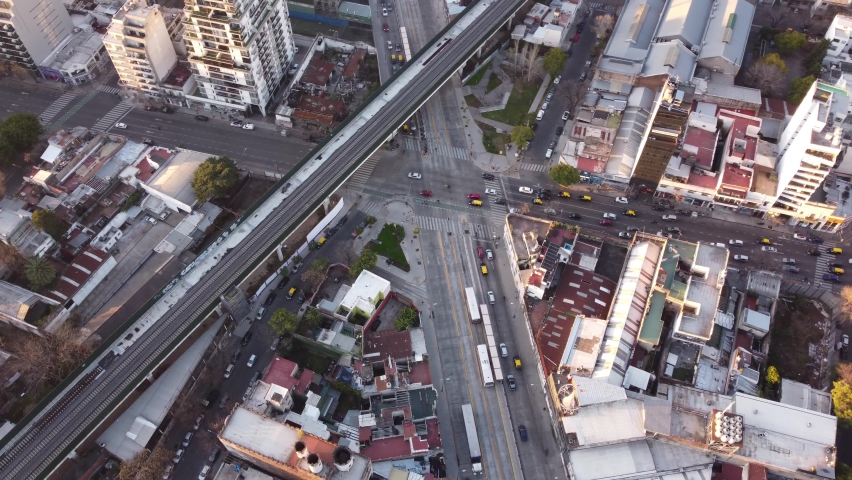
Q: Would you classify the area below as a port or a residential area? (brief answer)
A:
residential area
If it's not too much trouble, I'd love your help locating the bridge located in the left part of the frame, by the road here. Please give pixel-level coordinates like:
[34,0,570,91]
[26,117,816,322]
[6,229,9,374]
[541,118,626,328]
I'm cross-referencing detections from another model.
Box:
[0,0,530,480]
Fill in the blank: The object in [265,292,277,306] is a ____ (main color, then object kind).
black vehicle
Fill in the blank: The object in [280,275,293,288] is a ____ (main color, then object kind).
black vehicle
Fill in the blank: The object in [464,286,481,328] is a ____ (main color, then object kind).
white vehicle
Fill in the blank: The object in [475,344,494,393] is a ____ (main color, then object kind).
white vehicle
